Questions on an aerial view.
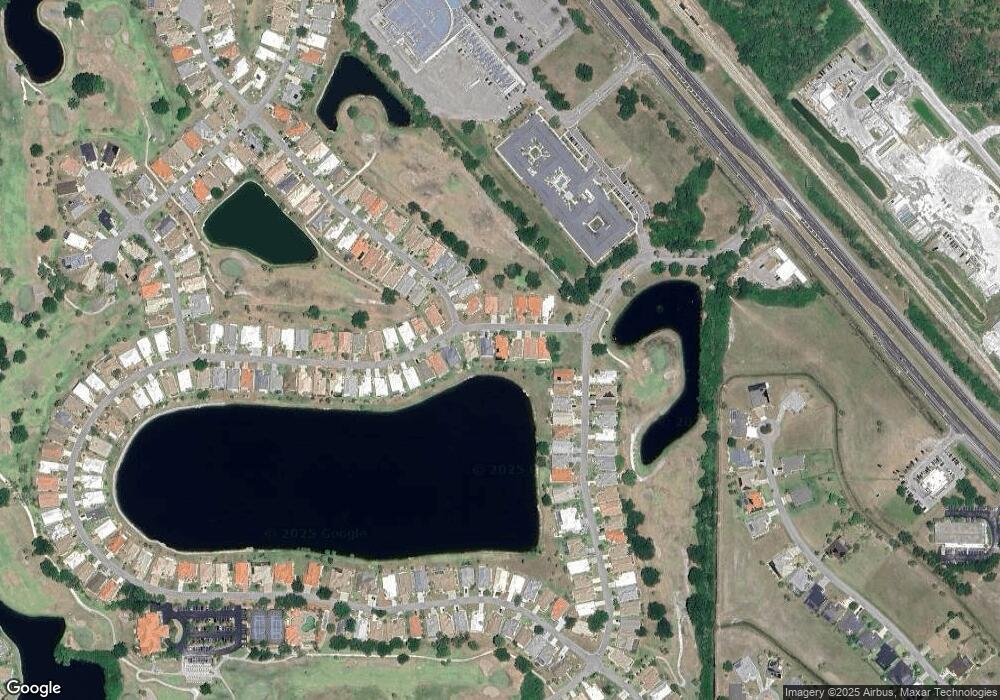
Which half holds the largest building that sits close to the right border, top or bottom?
bottom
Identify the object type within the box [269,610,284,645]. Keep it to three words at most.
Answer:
tennis court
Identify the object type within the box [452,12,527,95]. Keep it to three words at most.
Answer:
building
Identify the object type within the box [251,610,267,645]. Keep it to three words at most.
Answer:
tennis court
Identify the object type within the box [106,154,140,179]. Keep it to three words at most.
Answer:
house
